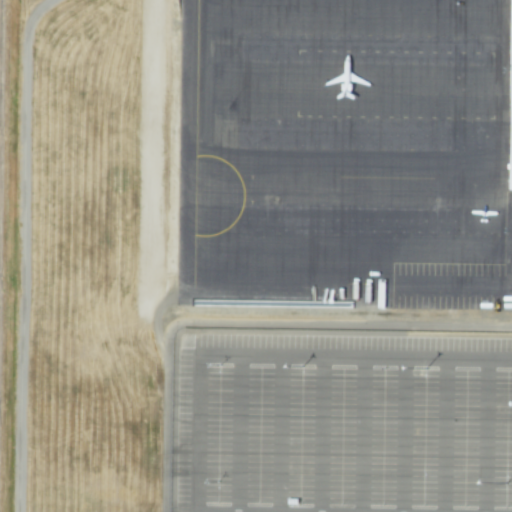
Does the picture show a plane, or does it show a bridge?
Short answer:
plane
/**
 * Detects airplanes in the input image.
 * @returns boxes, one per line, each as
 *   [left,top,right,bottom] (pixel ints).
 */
[324,56,371,101]
[472,205,499,224]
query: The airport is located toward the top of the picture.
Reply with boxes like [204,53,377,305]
[179,0,512,310]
